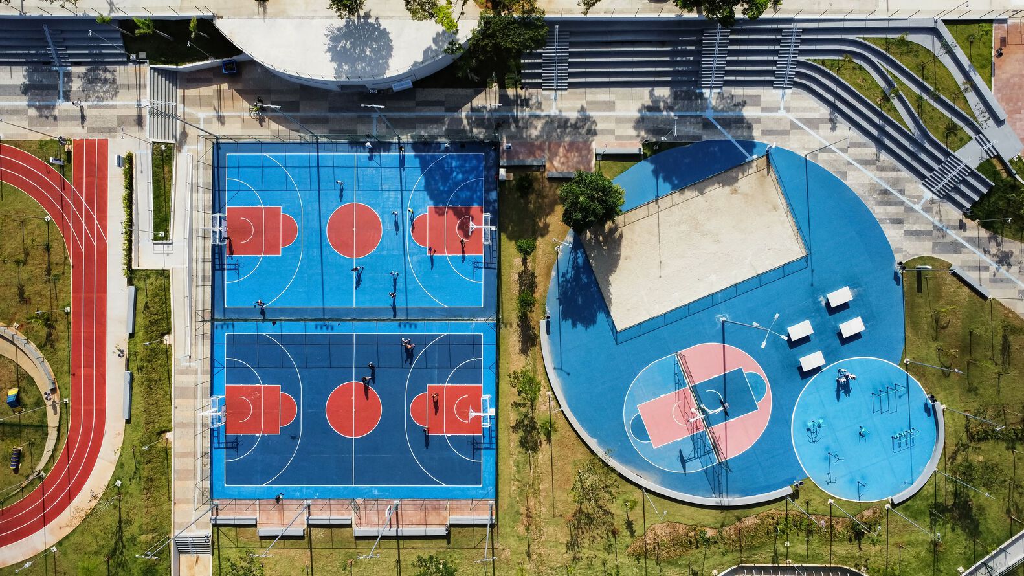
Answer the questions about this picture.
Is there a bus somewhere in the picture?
No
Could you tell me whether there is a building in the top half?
Yes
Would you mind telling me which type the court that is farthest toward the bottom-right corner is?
basketball court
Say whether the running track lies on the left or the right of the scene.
left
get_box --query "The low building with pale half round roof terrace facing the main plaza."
[213,16,480,92]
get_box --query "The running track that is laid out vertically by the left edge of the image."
[0,139,109,548]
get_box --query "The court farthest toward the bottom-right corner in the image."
[623,343,774,471]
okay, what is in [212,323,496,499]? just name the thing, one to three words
sports court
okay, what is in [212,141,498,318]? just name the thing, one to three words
sports court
